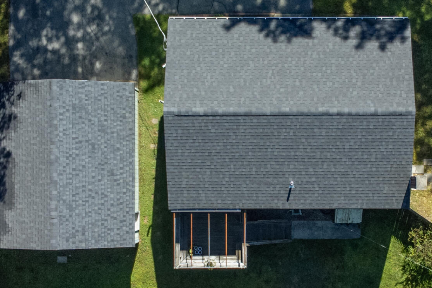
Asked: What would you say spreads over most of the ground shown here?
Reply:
buildings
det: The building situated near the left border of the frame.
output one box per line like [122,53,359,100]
[0,79,141,249]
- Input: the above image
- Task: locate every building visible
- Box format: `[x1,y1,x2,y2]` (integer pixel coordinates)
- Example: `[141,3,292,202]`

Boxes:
[159,14,427,214]
[0,79,141,249]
